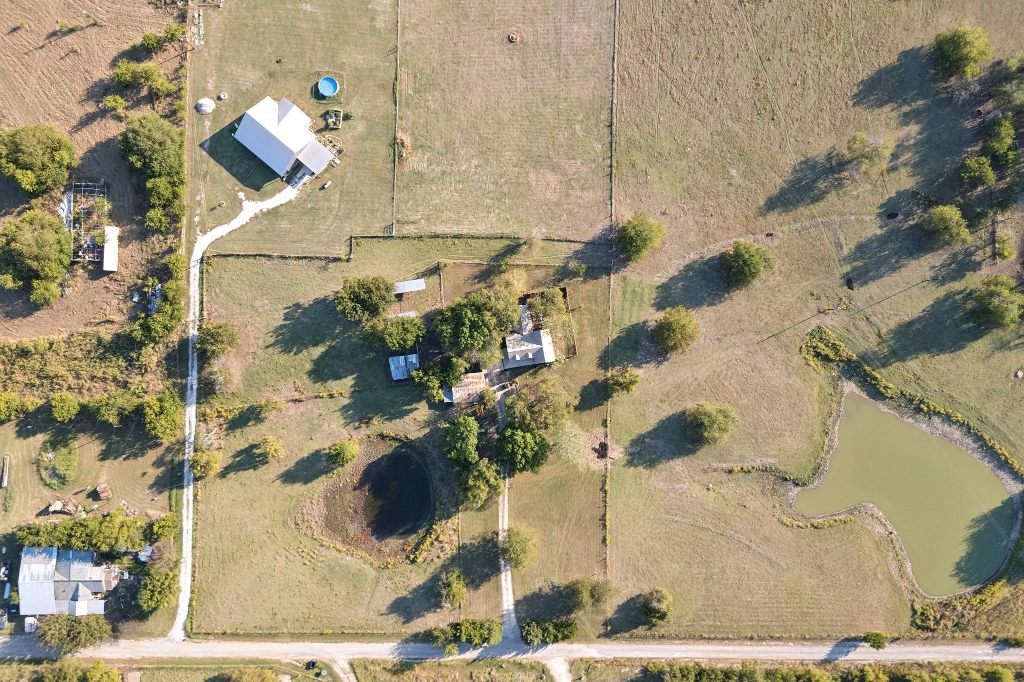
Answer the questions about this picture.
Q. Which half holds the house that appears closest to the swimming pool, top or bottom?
top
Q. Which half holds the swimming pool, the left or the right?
left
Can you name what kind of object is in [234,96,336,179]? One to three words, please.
house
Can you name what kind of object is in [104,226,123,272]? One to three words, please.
trailer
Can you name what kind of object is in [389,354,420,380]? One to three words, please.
shed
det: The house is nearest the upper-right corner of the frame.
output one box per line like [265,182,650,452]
[482,304,555,373]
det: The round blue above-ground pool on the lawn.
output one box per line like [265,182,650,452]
[317,76,339,99]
